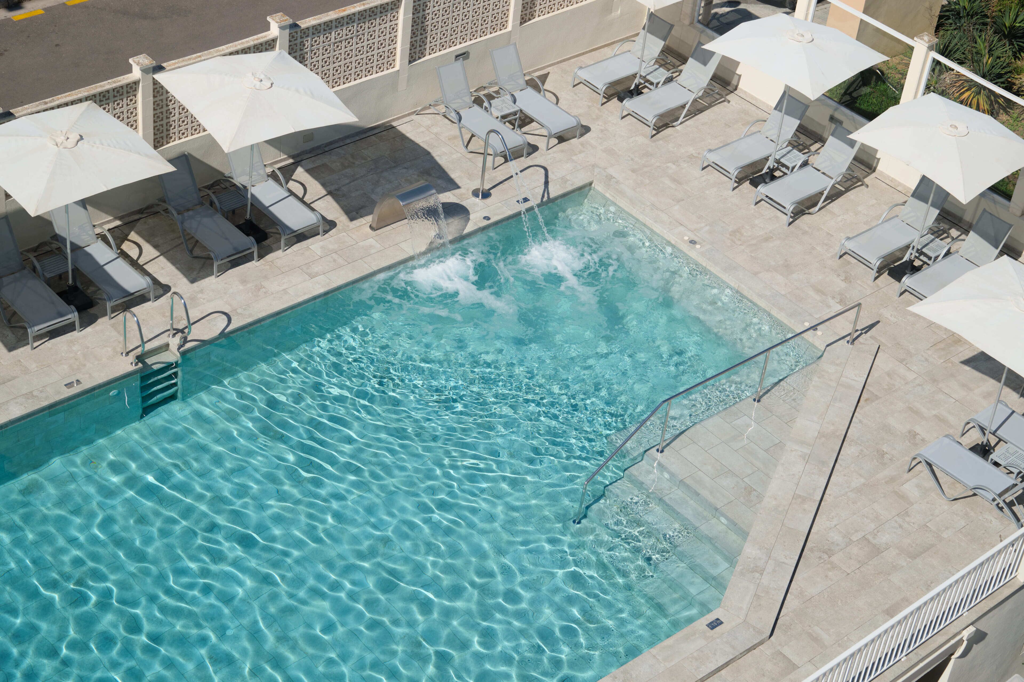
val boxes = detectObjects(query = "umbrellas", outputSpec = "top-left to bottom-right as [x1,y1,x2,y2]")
[617,0,665,98]
[905,258,1024,469]
[847,92,1024,279]
[154,49,359,238]
[701,11,890,184]
[0,103,175,307]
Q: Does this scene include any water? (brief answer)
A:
Yes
